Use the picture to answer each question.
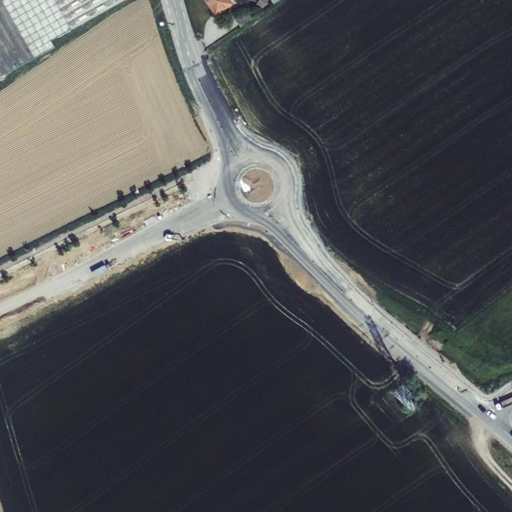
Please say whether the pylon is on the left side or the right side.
right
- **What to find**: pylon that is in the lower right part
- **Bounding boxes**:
[394,384,416,414]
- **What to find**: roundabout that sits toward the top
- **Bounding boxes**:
[234,162,282,210]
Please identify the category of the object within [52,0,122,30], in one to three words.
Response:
greenhouse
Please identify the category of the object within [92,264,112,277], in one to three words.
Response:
vehicle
